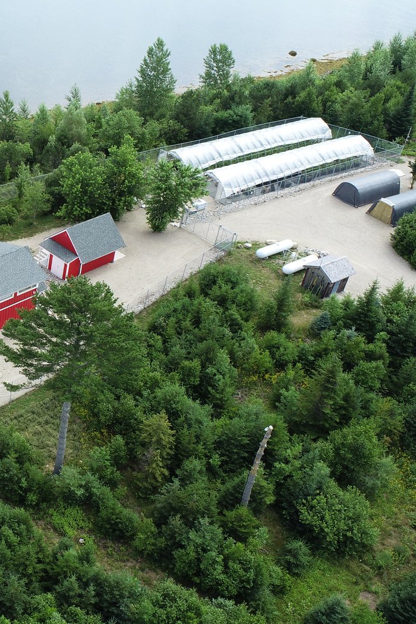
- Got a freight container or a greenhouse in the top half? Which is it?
greenhouse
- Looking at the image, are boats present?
No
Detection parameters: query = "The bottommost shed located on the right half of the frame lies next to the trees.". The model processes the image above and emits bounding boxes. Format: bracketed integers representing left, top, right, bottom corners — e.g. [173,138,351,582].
[301,258,354,298]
